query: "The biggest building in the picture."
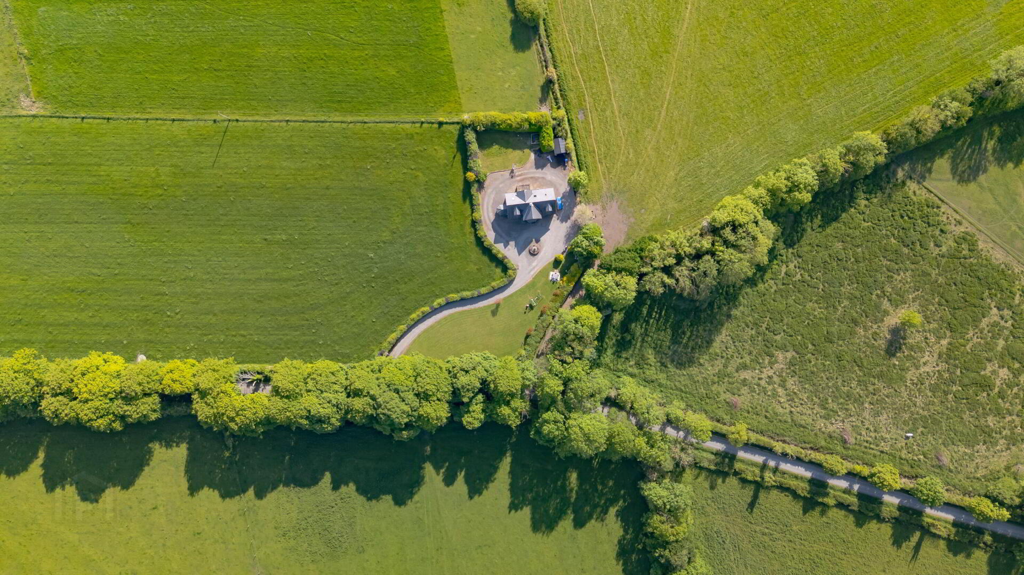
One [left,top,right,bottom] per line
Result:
[496,187,559,223]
